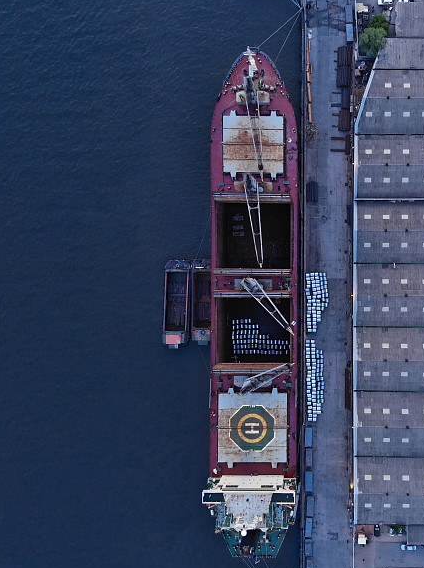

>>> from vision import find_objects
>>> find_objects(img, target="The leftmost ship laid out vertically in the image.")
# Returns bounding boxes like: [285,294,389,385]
[162,259,190,347]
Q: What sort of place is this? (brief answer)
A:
port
